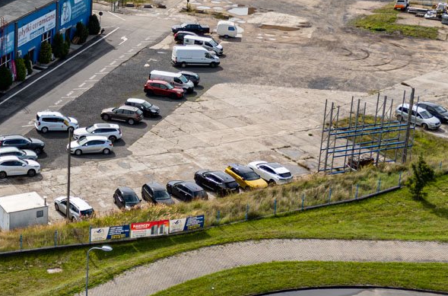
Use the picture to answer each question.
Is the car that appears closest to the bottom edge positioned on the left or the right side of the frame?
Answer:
left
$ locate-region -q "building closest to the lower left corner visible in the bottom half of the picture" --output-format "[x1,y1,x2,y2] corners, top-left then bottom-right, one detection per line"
[0,180,49,228]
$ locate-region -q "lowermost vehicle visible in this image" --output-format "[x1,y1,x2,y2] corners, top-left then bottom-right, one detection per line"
[52,195,97,228]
